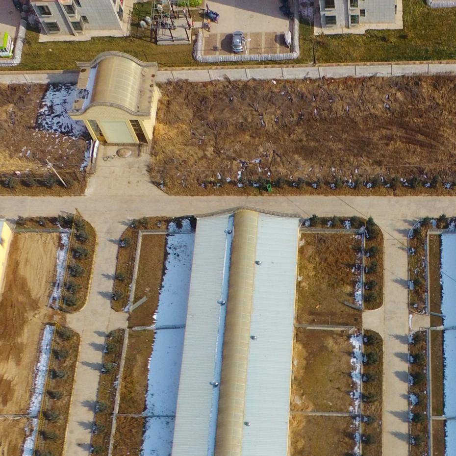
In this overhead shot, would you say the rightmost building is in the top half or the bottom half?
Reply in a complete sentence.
It is in the top half that the rightmost building appears.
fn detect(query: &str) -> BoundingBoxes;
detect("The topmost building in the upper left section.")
[30,0,138,45]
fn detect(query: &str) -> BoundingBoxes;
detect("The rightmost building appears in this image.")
[316,0,408,37]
